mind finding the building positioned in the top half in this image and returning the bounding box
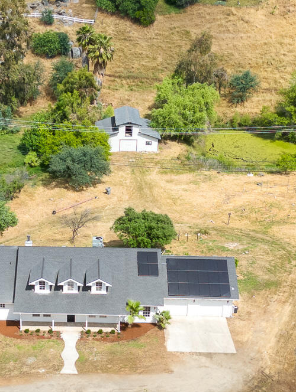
[97,100,160,152]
